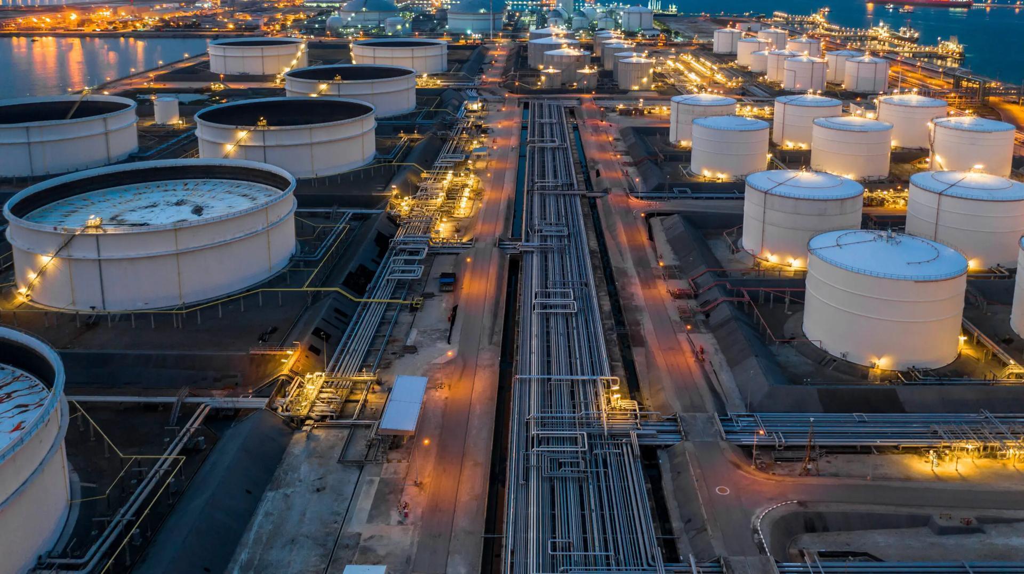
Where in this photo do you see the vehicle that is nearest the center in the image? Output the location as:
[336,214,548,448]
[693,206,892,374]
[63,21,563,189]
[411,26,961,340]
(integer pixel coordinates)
[440,272,457,289]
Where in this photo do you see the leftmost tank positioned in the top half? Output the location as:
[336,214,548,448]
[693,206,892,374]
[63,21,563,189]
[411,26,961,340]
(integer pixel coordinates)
[0,93,144,178]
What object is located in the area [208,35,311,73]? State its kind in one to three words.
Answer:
storage tank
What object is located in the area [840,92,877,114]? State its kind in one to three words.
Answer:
shed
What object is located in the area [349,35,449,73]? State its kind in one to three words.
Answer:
storage tank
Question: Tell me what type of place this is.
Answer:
industrial area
